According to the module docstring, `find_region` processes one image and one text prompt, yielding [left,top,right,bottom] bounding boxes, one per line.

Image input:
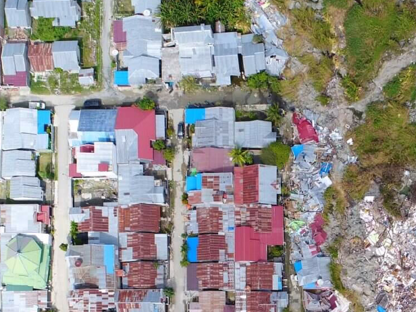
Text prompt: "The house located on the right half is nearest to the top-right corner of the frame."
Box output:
[265,48,288,79]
